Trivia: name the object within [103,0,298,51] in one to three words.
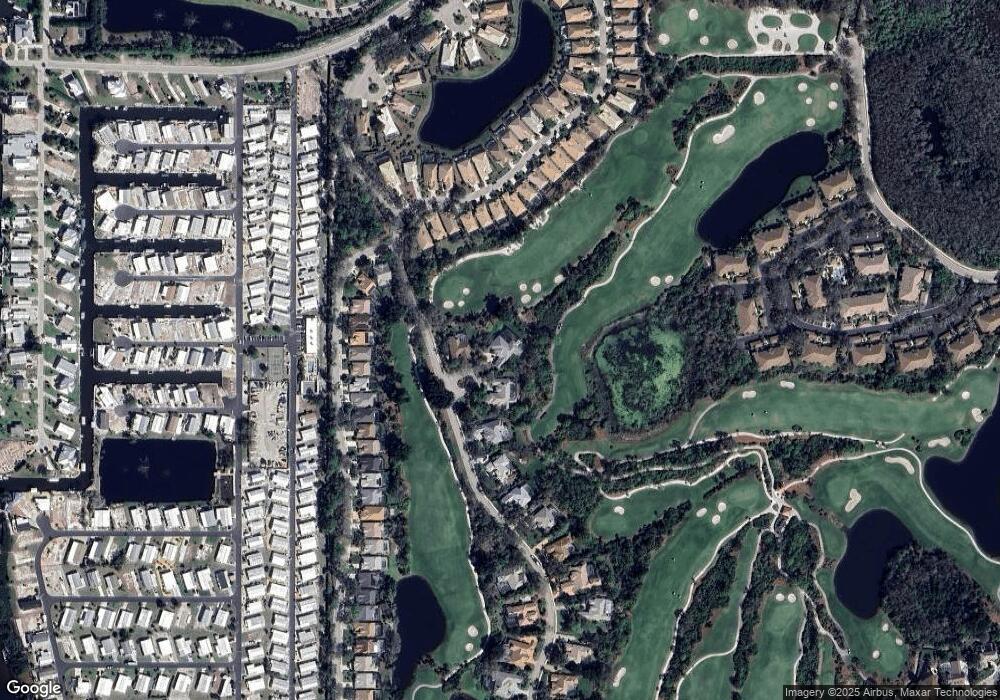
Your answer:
pond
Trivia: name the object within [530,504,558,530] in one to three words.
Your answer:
house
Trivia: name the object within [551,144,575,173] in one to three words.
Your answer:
house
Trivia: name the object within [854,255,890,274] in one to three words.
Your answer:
building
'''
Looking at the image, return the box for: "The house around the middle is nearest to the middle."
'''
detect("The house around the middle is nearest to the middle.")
[485,334,521,370]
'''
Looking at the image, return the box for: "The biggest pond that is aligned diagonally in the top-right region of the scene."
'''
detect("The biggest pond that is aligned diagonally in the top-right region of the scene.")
[697,131,828,249]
